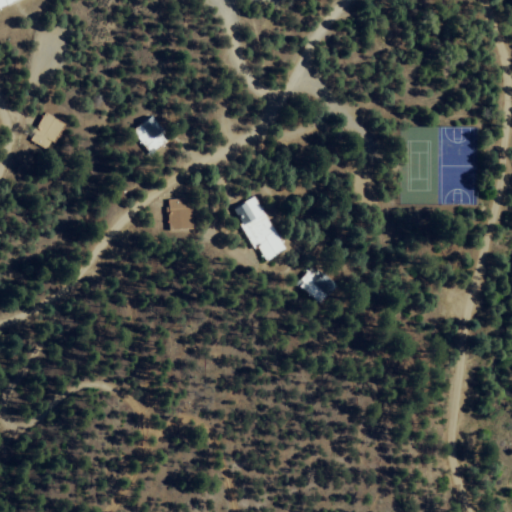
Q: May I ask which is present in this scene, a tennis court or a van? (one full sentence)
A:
The one in the frame is a tennis court.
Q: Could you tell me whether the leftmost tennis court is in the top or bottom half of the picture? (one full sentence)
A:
It is in the top half that the leftmost tennis court appears.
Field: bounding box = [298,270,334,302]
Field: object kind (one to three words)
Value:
house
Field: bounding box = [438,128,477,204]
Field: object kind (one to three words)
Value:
basketball court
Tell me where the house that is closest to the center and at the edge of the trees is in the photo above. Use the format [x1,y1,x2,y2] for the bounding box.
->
[235,196,286,260]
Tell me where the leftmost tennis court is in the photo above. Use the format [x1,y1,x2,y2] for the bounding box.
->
[401,128,438,204]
